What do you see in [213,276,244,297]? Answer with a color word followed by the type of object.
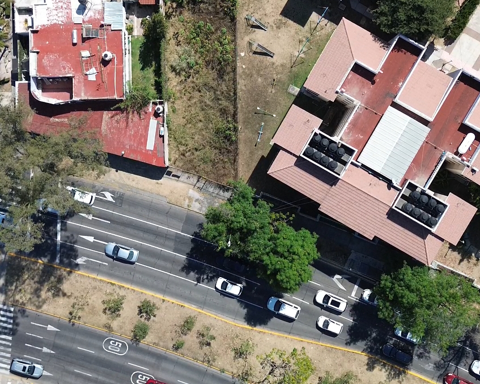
white car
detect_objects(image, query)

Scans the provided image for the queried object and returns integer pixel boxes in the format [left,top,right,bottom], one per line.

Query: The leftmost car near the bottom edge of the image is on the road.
[10,357,45,379]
